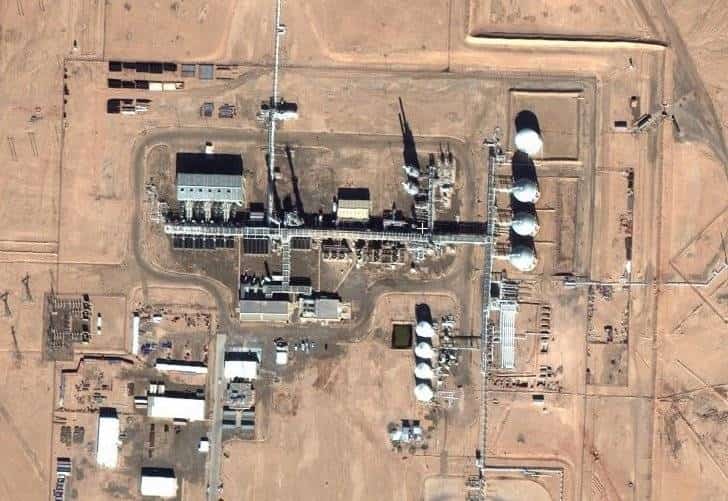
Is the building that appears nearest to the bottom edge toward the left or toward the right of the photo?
left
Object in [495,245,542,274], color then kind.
white storage tank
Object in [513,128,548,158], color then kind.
white storage tank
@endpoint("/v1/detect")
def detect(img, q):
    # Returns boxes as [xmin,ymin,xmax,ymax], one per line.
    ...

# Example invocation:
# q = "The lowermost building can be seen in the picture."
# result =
[141,476,178,497]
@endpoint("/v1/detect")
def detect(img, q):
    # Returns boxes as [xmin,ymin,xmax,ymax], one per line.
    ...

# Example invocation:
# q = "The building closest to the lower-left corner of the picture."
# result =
[97,418,119,469]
